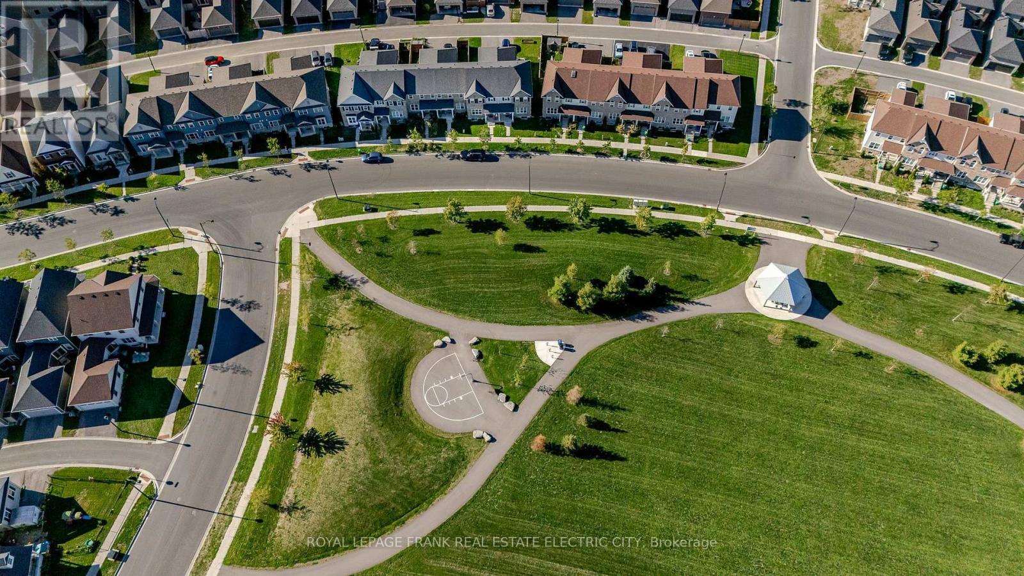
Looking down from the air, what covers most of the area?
grass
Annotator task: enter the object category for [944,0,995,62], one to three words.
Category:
house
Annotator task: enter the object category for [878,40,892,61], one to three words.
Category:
car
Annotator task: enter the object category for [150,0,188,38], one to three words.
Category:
building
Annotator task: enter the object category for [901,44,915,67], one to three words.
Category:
vehicle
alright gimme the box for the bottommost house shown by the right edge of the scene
[863,92,1024,212]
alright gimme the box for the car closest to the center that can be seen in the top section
[461,149,485,162]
